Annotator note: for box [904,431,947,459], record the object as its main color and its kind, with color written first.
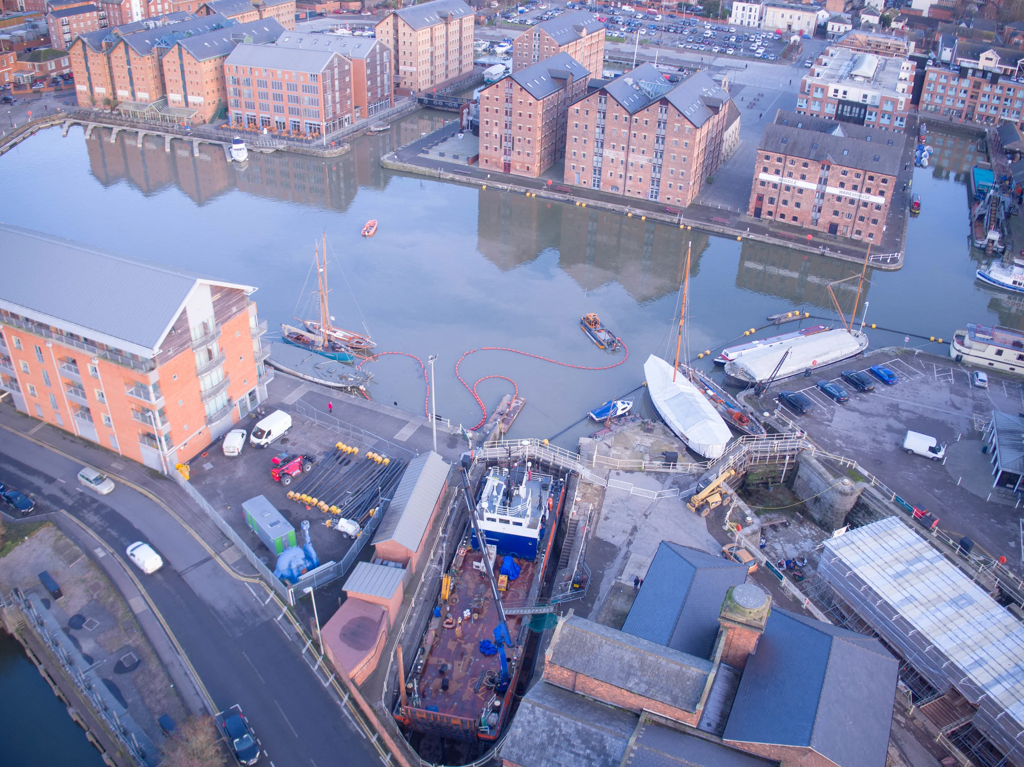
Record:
white van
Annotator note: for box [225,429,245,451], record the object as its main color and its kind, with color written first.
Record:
white vehicle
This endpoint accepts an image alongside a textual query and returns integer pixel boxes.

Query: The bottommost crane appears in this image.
[458,464,519,698]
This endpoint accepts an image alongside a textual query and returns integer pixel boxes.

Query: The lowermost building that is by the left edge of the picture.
[0,212,270,473]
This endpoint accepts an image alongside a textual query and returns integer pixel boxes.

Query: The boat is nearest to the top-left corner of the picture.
[230,135,245,163]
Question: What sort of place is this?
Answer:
port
